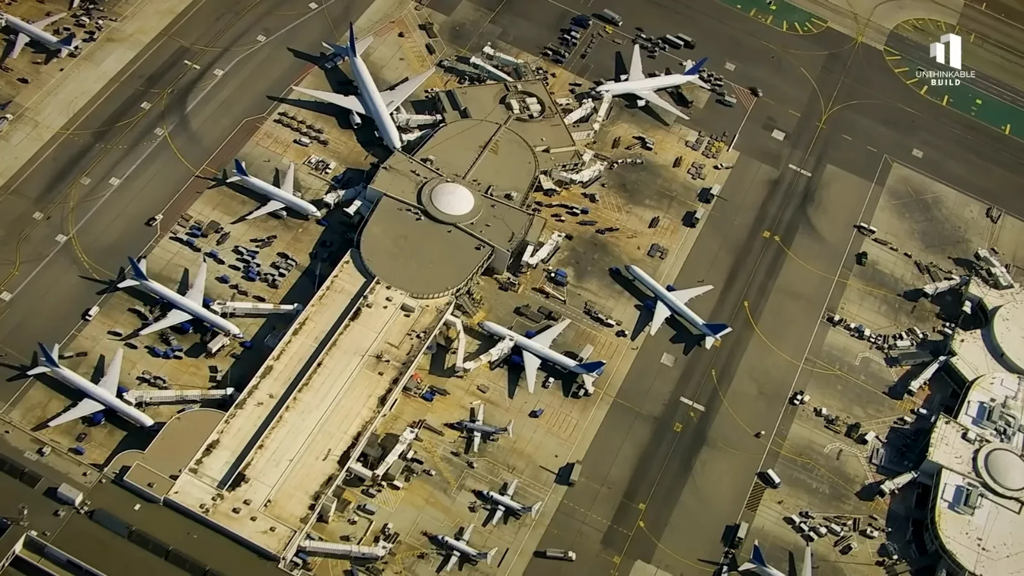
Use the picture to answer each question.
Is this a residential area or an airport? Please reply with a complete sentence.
It's an airport.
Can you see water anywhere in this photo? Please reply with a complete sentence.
No, the picture contains no water.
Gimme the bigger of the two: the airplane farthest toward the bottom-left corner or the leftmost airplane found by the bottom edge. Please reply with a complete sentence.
Compared with the leftmost airplane found by the bottom edge, the airplane farthest toward the bottom-left corner is the larger one.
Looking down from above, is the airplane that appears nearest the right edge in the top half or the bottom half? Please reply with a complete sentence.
The bottom half of the photo is where the airplane that appears nearest the right edge is.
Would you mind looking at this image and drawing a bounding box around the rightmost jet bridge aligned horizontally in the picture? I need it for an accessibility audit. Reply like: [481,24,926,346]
[914,274,970,301]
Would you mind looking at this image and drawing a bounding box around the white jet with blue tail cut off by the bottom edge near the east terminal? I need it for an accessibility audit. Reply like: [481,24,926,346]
[748,533,825,576]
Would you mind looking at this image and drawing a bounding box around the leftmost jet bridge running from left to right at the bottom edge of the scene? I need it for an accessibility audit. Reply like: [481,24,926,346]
[298,539,393,575]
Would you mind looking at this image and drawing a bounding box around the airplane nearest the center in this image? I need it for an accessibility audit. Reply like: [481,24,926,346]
[477,316,603,391]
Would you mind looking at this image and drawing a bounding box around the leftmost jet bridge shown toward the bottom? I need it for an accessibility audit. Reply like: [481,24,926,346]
[118,386,237,410]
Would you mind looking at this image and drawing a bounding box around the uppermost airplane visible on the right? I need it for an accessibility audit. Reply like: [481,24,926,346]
[595,43,717,120]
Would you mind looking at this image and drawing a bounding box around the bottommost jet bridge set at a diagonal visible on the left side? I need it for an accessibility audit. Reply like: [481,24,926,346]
[346,424,419,485]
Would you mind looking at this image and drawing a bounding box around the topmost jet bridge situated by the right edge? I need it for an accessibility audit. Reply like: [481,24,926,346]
[968,244,1005,274]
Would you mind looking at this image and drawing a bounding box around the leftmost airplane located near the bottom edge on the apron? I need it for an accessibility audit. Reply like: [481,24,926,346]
[438,523,500,573]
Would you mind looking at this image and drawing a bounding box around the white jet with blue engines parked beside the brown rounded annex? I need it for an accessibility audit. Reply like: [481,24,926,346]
[30,345,155,428]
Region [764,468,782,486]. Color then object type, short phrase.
white vehicle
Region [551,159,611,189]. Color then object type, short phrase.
white jet bridge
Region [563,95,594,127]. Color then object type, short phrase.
white jet bridge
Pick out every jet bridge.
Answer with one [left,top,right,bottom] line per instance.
[477,44,527,68]
[896,356,947,398]
[0,16,11,47]
[322,185,368,210]
[118,386,237,410]
[518,229,569,271]
[208,299,303,322]
[394,114,442,132]
[298,539,393,575]
[563,95,594,127]
[346,424,419,485]
[914,274,970,301]
[968,244,1005,274]
[464,54,518,83]
[592,90,615,140]
[436,58,489,85]
[338,198,366,222]
[447,316,519,375]
[551,159,611,189]
[400,126,435,150]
